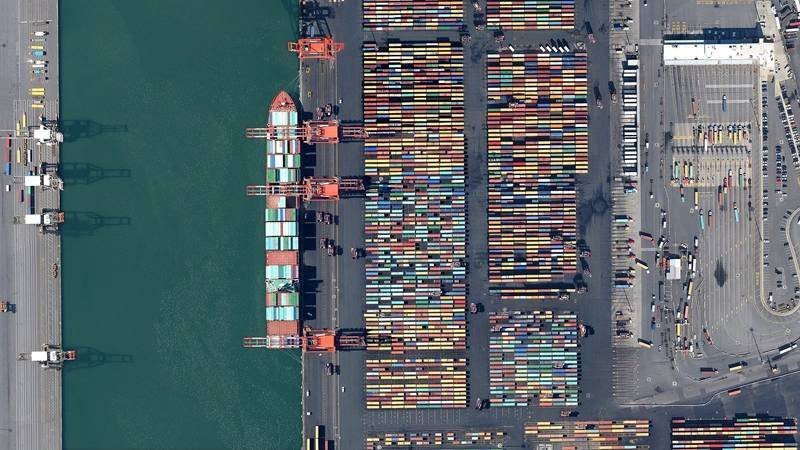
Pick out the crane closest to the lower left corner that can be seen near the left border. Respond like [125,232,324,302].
[13,341,73,370]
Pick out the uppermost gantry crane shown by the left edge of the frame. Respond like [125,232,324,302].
[18,118,63,149]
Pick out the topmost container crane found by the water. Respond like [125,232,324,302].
[289,34,344,61]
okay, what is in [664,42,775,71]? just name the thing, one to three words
building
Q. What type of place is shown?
port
